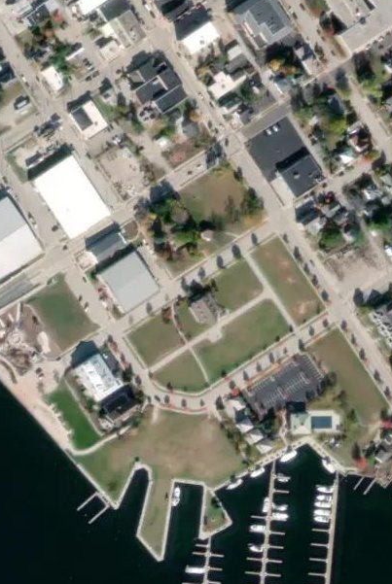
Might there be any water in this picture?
Yes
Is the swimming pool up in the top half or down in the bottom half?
bottom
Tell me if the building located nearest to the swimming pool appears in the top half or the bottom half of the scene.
bottom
